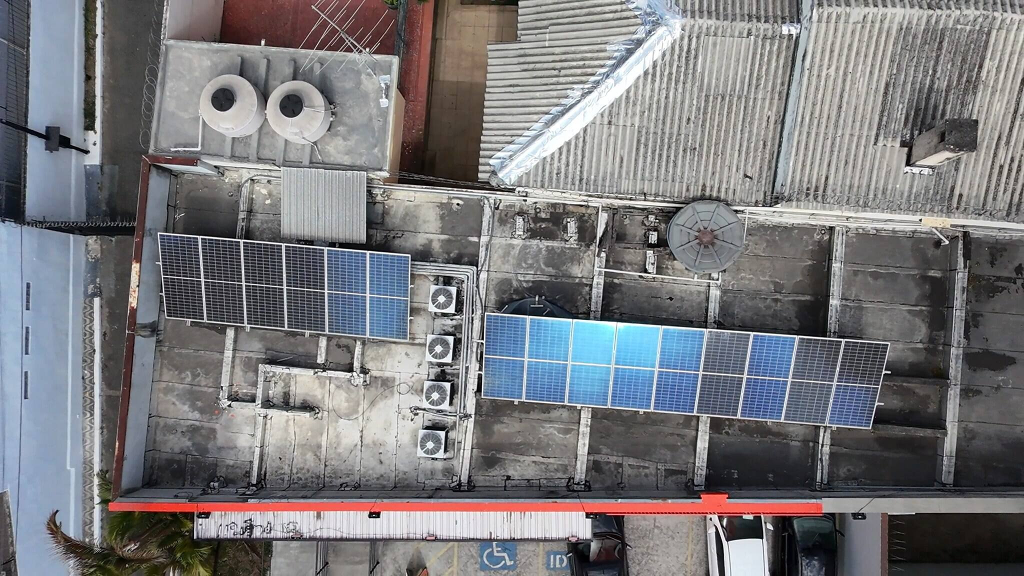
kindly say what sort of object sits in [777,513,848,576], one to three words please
car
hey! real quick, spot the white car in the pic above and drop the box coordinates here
[706,515,779,576]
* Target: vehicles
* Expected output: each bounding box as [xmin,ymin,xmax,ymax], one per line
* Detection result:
[565,515,638,576]
[777,513,848,576]
[706,515,779,576]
